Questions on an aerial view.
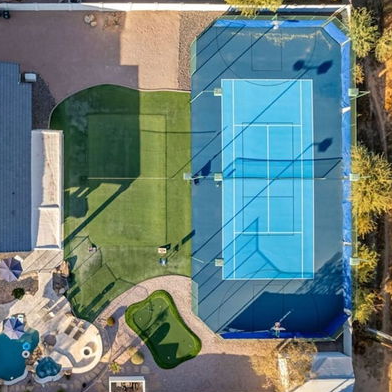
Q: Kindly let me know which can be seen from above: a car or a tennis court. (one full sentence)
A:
This aerial view contains a tennis court.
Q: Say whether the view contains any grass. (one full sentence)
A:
Yes, grass can be seen from above here.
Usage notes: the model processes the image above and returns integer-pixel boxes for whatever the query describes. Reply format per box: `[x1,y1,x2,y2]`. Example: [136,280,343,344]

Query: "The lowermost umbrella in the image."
[4,316,26,337]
